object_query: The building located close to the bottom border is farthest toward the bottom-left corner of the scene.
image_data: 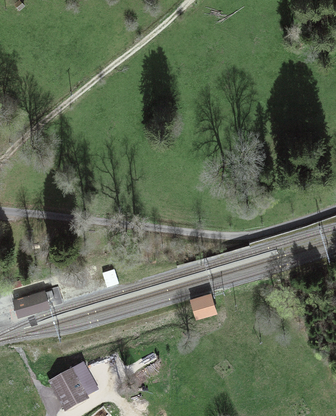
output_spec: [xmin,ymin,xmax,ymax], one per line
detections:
[50,367,90,410]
